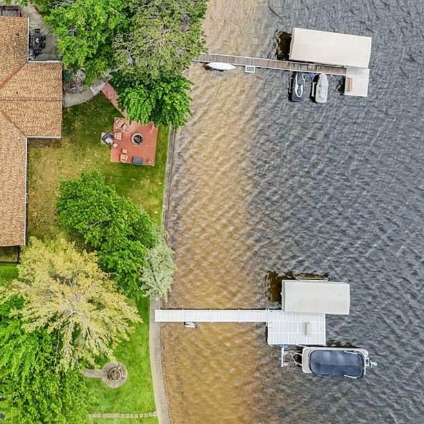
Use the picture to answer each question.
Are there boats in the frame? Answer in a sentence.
Yes, looking at the shot, I can spot a boat.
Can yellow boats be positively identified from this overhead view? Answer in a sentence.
No, the photo shows no yellow boat.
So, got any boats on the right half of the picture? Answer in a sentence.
Yes, a boat can be seen on the right half of the picture.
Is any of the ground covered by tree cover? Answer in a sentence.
Yes, tree cover shows up in the scene.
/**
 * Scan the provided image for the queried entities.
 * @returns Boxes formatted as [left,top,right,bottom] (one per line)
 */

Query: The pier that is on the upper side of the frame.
[199,53,371,97]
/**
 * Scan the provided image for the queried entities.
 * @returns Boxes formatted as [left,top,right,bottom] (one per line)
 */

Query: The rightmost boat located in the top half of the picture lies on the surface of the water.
[310,73,326,103]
